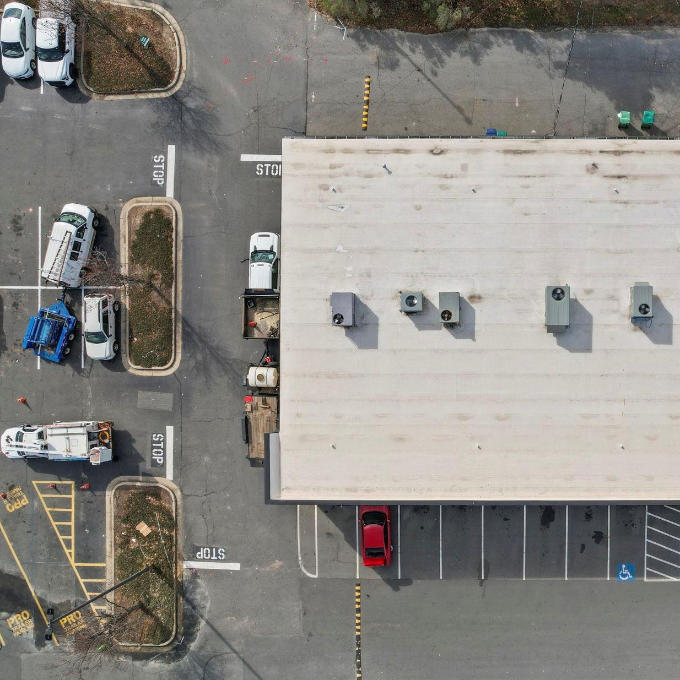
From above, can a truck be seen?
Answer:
Yes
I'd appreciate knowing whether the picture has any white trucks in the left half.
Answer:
Yes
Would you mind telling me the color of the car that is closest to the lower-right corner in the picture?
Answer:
red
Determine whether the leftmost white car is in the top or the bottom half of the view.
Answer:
top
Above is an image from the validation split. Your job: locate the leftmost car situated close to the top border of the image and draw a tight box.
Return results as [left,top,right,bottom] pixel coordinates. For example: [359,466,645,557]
[0,6,36,79]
